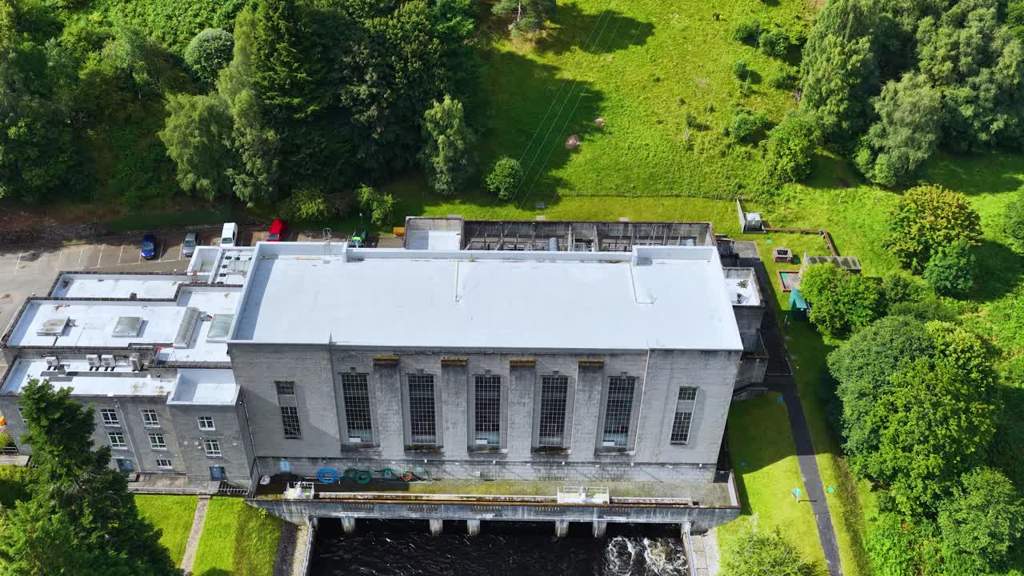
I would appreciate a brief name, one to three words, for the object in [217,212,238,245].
vehicle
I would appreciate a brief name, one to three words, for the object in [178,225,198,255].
car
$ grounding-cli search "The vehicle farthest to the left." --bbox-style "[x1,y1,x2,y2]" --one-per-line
[136,232,156,259]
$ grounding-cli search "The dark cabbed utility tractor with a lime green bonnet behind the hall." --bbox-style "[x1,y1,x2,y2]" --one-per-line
[348,215,372,250]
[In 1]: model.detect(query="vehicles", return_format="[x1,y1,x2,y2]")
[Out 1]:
[136,232,156,259]
[217,212,238,245]
[178,225,198,255]
[348,215,372,250]
[266,212,285,241]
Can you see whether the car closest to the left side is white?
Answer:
No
